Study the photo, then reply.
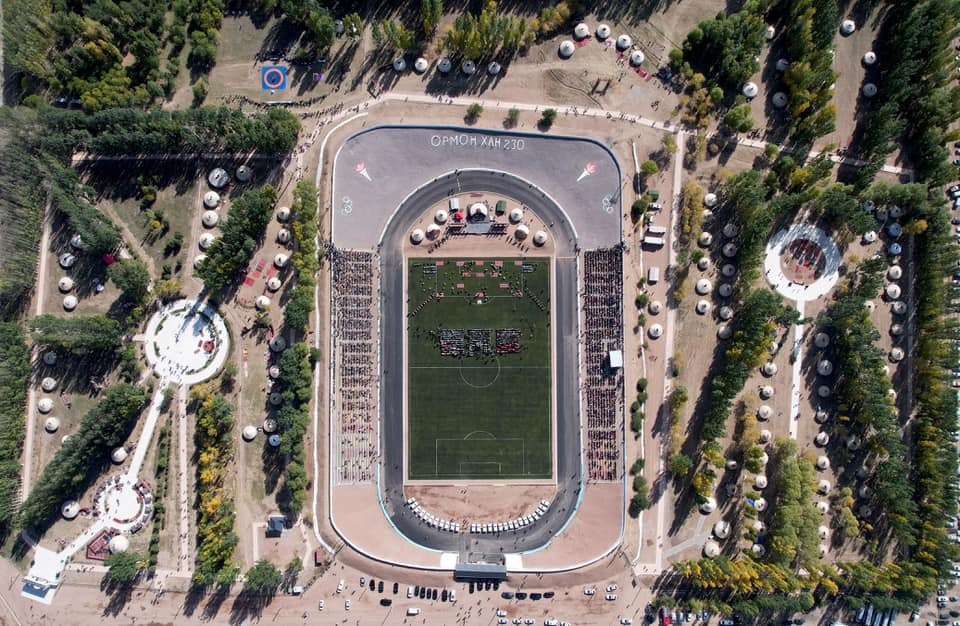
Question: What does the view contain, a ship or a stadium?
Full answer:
It is a stadium that can be seen here.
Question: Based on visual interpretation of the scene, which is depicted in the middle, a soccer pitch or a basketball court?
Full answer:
The feature located in the middle is a soccer pitch.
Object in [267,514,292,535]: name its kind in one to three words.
house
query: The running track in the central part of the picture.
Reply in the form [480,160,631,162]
[381,171,578,553]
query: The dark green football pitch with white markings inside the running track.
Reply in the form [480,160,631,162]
[405,254,556,485]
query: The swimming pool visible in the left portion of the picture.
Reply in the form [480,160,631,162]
[23,584,46,598]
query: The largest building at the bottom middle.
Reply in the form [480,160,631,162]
[456,560,505,579]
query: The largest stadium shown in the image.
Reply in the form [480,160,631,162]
[330,125,626,574]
